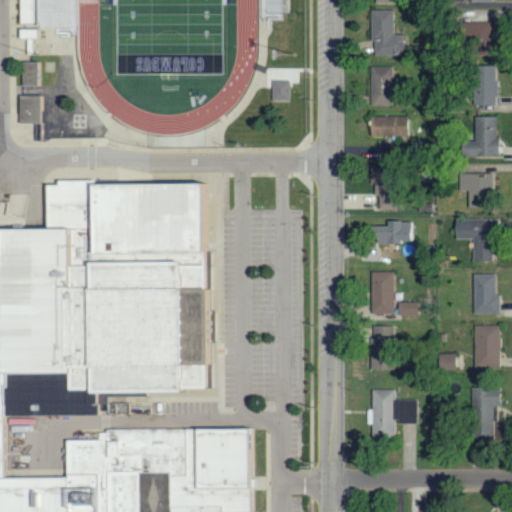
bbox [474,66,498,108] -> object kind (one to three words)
house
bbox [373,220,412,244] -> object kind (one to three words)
house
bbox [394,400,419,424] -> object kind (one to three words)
building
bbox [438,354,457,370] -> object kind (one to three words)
shed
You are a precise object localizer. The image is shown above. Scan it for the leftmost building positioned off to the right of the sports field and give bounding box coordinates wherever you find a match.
[272,80,291,100]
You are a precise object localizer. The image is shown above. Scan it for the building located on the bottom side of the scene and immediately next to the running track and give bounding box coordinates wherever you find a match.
[0,180,259,512]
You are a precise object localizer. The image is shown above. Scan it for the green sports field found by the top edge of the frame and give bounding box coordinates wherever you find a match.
[98,0,238,115]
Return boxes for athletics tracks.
[80,0,256,134]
